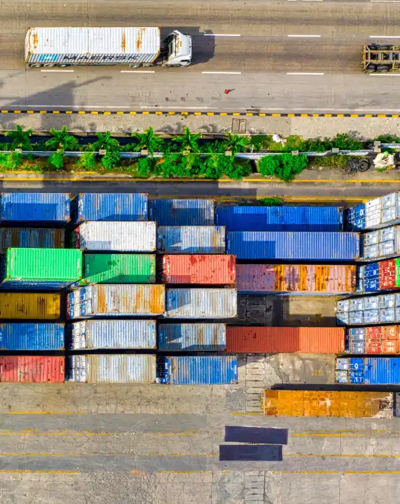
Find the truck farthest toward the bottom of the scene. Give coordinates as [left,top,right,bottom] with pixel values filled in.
[259,390,400,418]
